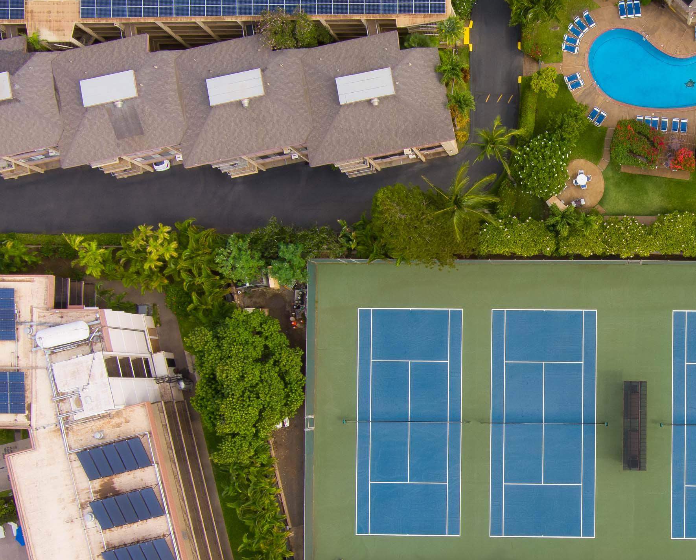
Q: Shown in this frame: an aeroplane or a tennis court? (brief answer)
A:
tennis court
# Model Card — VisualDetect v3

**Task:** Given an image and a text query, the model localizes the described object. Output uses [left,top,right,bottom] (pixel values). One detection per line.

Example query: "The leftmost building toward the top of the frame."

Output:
[0,31,458,180]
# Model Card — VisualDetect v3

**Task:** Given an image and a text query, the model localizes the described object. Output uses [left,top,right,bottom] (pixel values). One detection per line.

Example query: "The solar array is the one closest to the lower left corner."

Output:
[0,371,29,414]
